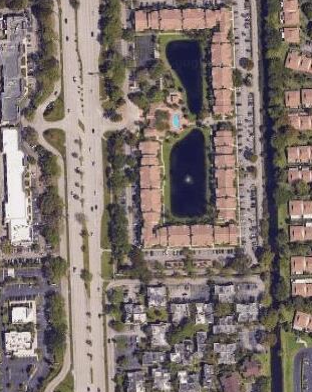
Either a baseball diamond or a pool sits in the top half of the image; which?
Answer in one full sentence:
Visible in the top half of the image is a pool.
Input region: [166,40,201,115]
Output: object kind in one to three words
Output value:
pond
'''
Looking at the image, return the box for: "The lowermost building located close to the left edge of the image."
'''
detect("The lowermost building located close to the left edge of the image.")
[5,330,36,358]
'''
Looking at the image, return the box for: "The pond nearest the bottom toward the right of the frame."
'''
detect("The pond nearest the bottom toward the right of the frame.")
[170,129,207,217]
